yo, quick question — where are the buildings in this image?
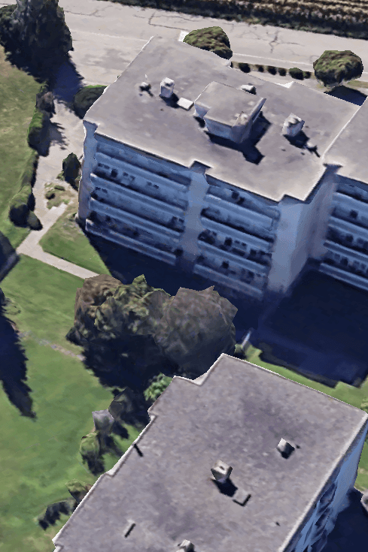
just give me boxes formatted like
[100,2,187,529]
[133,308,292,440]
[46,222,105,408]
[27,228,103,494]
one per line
[74,40,368,291]
[51,352,368,552]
